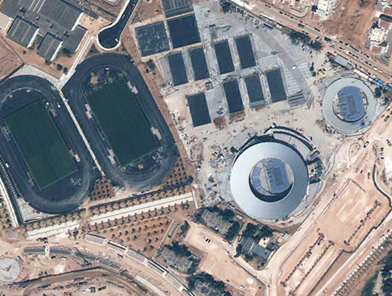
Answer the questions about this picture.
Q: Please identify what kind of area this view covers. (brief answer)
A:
sports ground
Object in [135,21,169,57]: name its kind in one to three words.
tennis court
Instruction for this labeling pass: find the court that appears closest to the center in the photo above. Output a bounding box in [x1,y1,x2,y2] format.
[187,91,210,127]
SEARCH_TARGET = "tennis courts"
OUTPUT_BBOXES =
[223,79,244,113]
[244,73,264,108]
[235,34,256,68]
[187,91,210,127]
[166,13,200,48]
[161,0,193,18]
[190,46,209,80]
[168,52,188,85]
[214,39,234,74]
[264,67,287,103]
[135,21,169,57]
